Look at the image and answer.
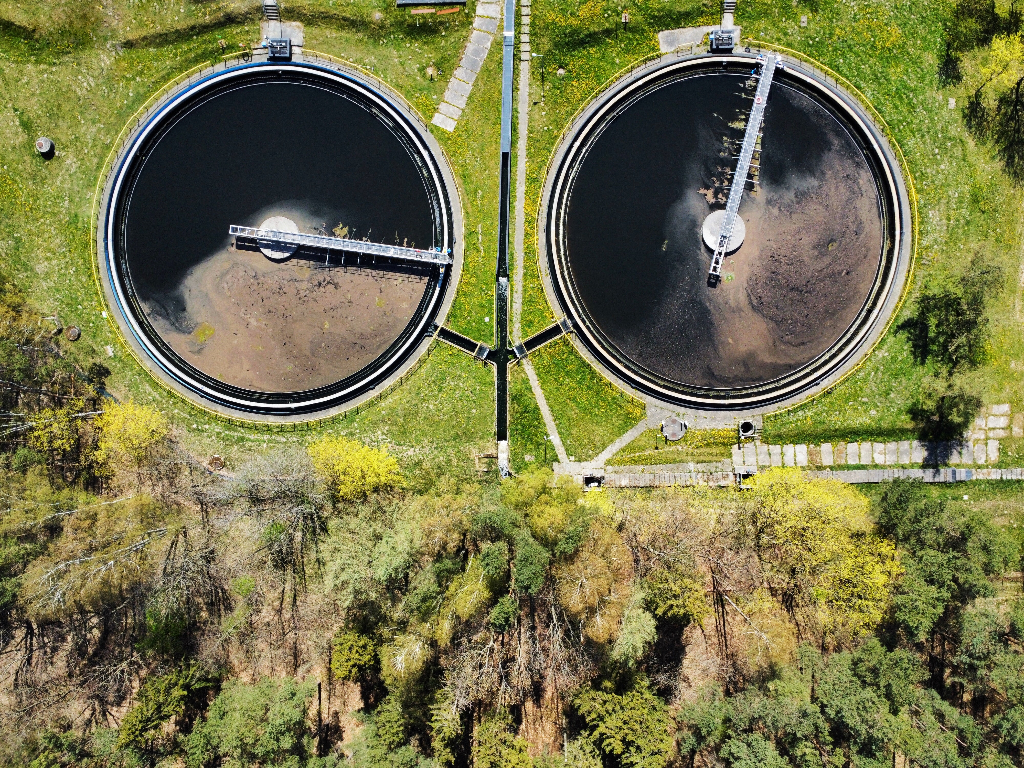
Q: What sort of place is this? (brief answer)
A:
industrial area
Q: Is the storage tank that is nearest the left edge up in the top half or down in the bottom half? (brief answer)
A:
top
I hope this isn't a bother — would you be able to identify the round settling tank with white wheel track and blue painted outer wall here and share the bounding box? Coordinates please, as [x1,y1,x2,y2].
[102,60,456,414]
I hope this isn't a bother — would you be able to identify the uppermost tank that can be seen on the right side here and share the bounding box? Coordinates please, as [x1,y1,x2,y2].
[544,50,906,412]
